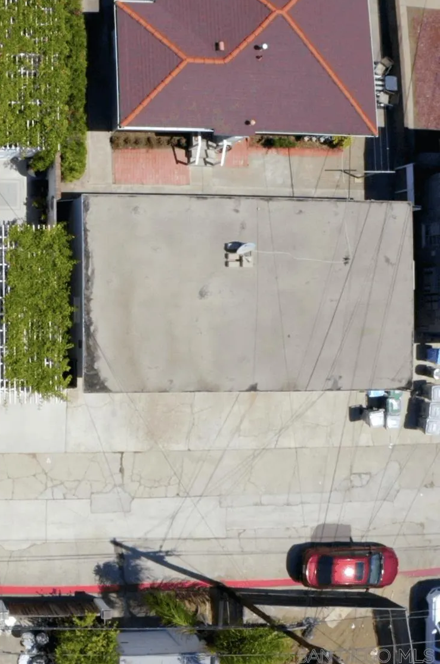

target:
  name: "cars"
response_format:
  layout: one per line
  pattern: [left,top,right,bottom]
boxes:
[296,543,398,595]
[417,585,440,664]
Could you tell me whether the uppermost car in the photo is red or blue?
red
